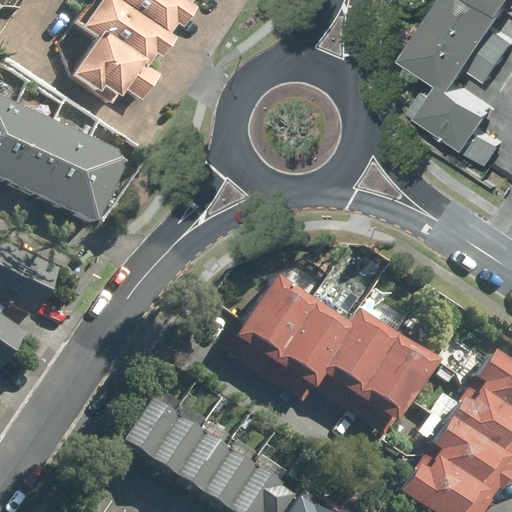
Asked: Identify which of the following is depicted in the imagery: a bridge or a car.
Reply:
car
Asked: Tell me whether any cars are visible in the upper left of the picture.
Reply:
Yes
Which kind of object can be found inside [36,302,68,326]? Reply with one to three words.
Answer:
truck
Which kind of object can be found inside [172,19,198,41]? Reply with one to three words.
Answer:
car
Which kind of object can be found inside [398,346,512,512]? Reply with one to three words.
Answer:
building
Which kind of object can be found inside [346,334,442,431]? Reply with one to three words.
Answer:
house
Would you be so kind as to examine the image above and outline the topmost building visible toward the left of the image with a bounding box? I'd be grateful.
[74,0,198,103]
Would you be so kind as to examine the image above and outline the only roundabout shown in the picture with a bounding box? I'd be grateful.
[248,82,341,175]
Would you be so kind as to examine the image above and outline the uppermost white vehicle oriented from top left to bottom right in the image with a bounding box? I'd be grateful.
[448,248,476,272]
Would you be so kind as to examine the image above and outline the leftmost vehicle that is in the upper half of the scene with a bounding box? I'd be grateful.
[46,12,70,38]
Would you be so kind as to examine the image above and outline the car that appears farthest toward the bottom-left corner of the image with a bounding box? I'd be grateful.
[2,488,26,512]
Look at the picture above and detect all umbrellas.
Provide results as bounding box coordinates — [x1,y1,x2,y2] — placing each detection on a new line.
[36,103,50,116]
[453,350,464,361]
